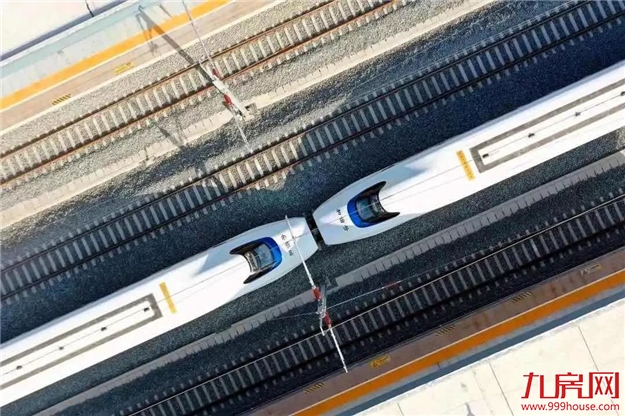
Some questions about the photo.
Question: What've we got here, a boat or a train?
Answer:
train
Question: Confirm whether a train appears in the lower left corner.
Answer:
Yes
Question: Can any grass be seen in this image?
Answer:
No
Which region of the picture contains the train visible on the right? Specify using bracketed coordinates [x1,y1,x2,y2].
[312,59,625,245]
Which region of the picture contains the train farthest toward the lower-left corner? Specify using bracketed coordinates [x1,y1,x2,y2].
[0,215,320,404]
